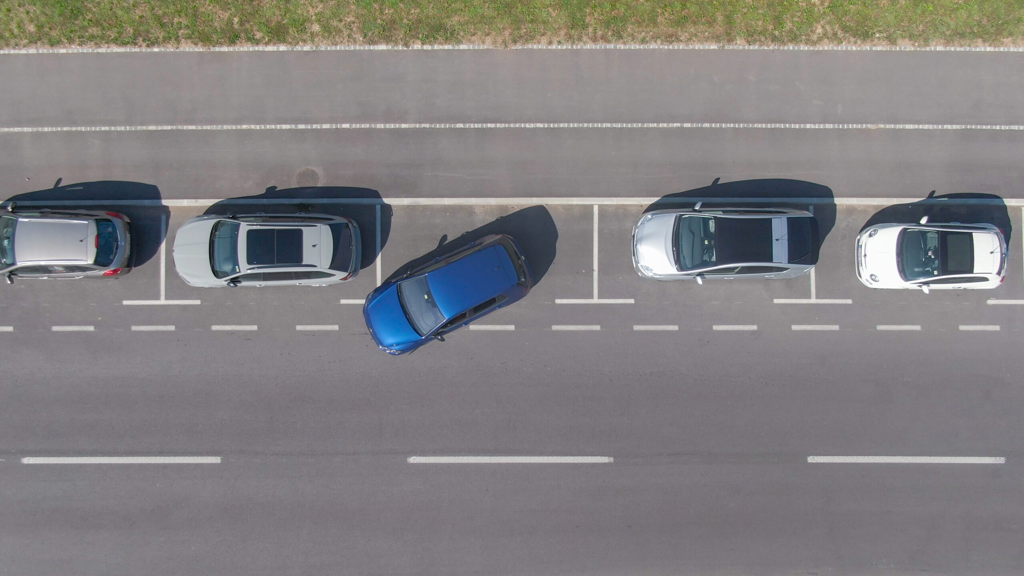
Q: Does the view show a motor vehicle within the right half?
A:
Yes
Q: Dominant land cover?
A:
paved ground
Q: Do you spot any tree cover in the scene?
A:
No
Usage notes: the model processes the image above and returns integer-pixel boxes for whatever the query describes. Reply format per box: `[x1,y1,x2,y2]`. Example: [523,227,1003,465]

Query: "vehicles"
[172,210,363,289]
[362,230,533,355]
[0,203,138,284]
[631,201,820,285]
[854,216,1007,294]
